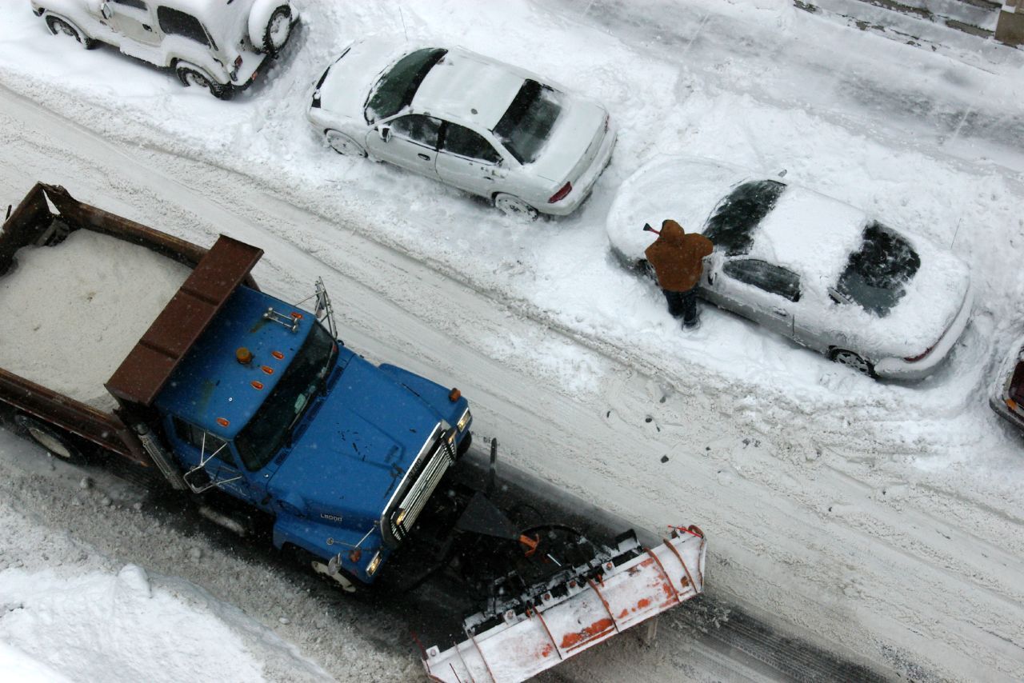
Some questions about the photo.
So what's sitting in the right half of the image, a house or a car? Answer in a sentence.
Looking in the right half of the image, you will find a car.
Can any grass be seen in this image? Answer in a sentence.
No, the picture contains no grass.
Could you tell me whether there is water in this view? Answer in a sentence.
No, no water is visible.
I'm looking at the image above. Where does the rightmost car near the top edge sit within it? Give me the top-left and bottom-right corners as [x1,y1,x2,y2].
[306,16,624,228]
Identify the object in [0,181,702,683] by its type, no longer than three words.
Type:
truck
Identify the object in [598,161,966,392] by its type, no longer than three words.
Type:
car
